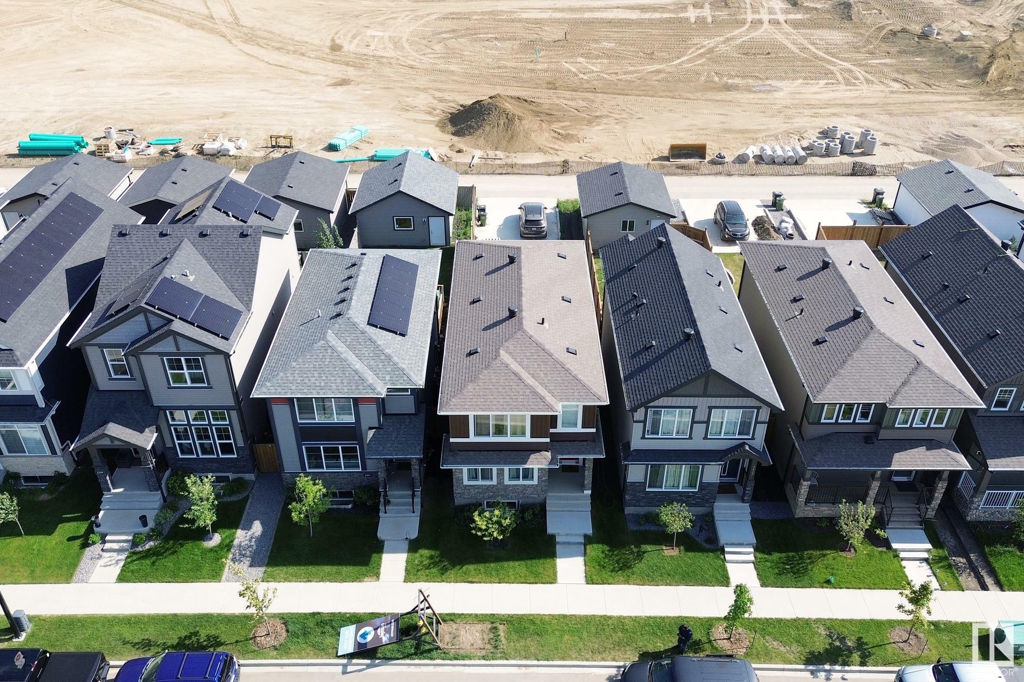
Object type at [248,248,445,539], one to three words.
house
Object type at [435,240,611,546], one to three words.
house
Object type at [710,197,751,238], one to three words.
car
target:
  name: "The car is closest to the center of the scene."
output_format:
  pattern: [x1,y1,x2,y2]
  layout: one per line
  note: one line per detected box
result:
[518,203,549,236]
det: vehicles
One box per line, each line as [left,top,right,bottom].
[0,646,120,682]
[113,652,243,682]
[518,203,549,236]
[619,658,760,682]
[891,659,1024,682]
[710,197,751,238]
